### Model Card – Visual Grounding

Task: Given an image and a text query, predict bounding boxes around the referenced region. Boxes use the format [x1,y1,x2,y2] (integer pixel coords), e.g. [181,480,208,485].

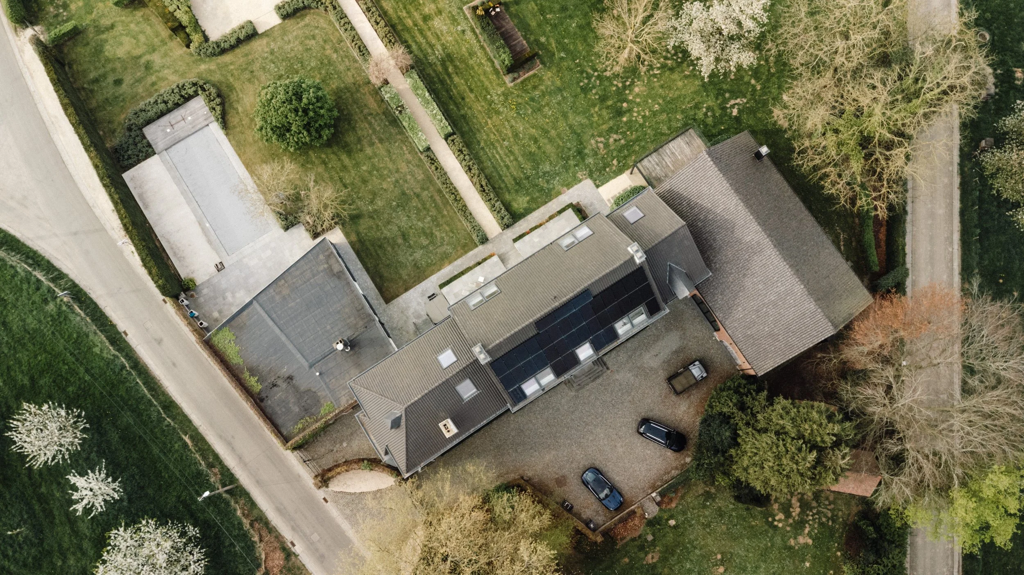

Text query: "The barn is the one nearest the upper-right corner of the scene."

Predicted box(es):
[654,129,872,376]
